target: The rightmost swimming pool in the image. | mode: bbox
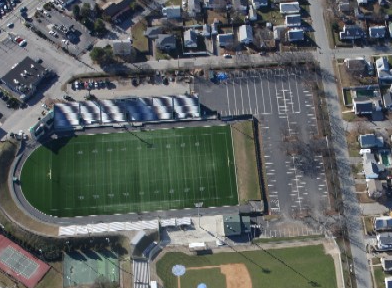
[378,155,392,169]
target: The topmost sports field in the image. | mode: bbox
[20,125,239,218]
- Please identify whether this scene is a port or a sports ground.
sports ground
